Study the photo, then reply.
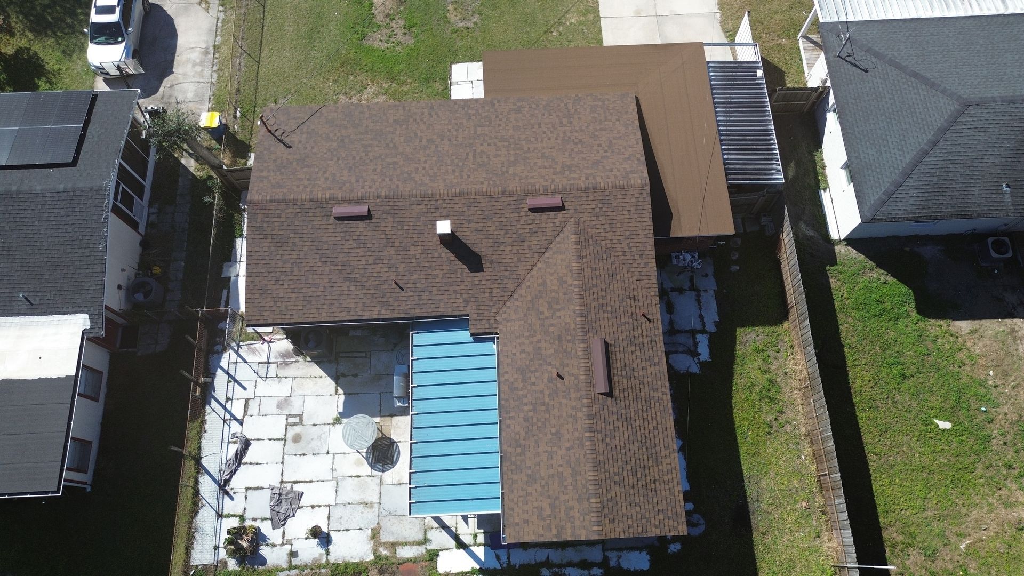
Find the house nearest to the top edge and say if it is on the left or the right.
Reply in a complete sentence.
The house nearest to the top edge is on the right side of the image.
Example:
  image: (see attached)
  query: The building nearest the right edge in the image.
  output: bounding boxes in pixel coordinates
[796,0,1024,240]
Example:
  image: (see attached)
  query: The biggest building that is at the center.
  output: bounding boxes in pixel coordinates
[245,46,732,542]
